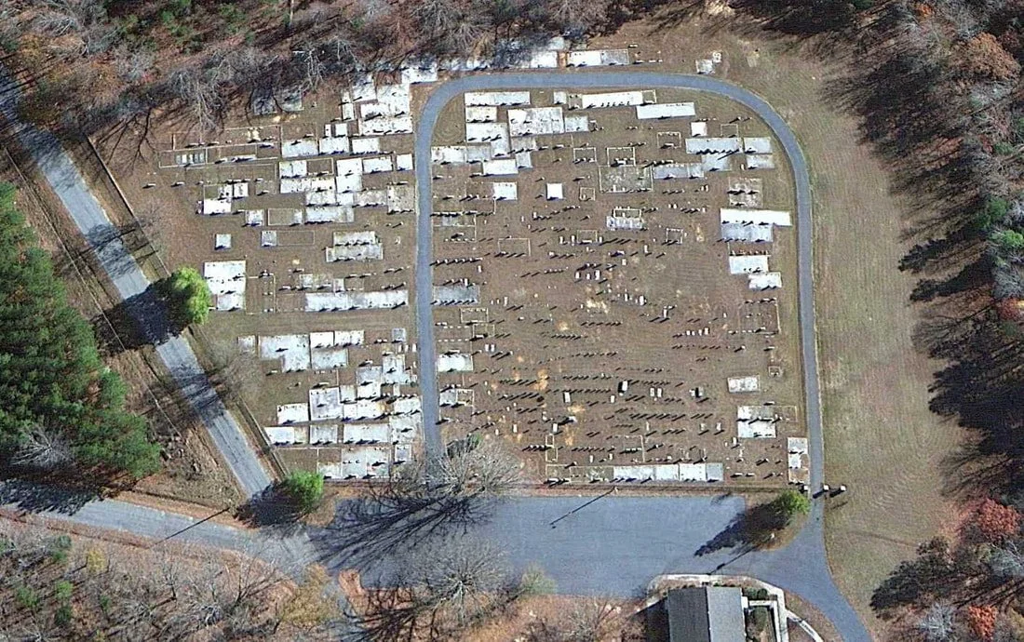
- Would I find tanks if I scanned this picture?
No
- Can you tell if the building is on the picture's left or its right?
right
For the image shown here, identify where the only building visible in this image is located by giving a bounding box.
[668,582,749,642]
